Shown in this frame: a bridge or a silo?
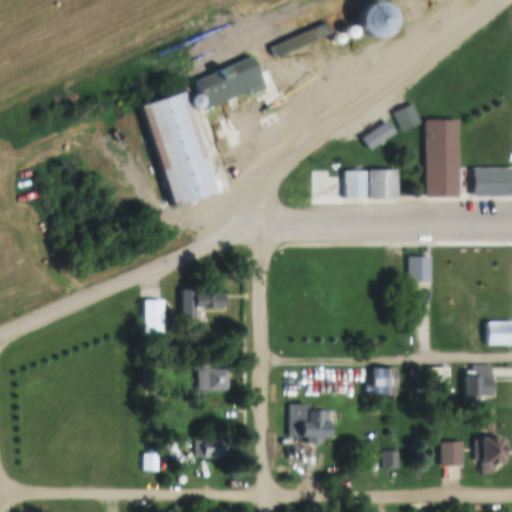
silo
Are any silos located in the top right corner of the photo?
Yes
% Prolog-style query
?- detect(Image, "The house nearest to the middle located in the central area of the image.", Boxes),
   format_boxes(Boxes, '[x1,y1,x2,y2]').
[182,289,230,321]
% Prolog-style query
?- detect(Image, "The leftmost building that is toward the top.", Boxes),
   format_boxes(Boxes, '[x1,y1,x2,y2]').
[142,92,218,204]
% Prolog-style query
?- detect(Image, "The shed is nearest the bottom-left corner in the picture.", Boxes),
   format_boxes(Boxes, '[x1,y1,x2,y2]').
[142,451,160,472]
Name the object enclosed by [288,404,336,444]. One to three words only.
house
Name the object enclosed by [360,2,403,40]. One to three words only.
silo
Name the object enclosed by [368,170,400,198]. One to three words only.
building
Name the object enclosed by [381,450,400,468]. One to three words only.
shed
